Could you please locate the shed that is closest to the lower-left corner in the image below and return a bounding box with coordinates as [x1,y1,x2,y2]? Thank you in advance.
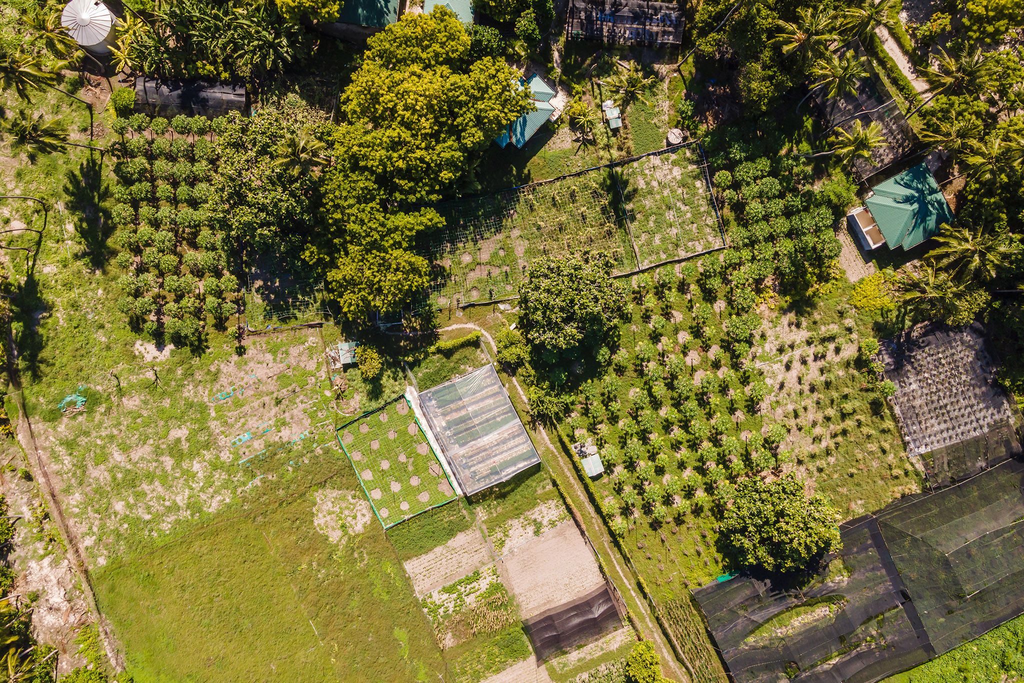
[339,342,359,365]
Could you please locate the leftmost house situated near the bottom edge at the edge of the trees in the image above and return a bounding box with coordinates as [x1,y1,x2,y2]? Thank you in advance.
[686,510,936,683]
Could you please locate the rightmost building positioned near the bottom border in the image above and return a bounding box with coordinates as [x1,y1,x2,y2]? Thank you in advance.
[862,439,1024,661]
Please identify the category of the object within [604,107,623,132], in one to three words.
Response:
shed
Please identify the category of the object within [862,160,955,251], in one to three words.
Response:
house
